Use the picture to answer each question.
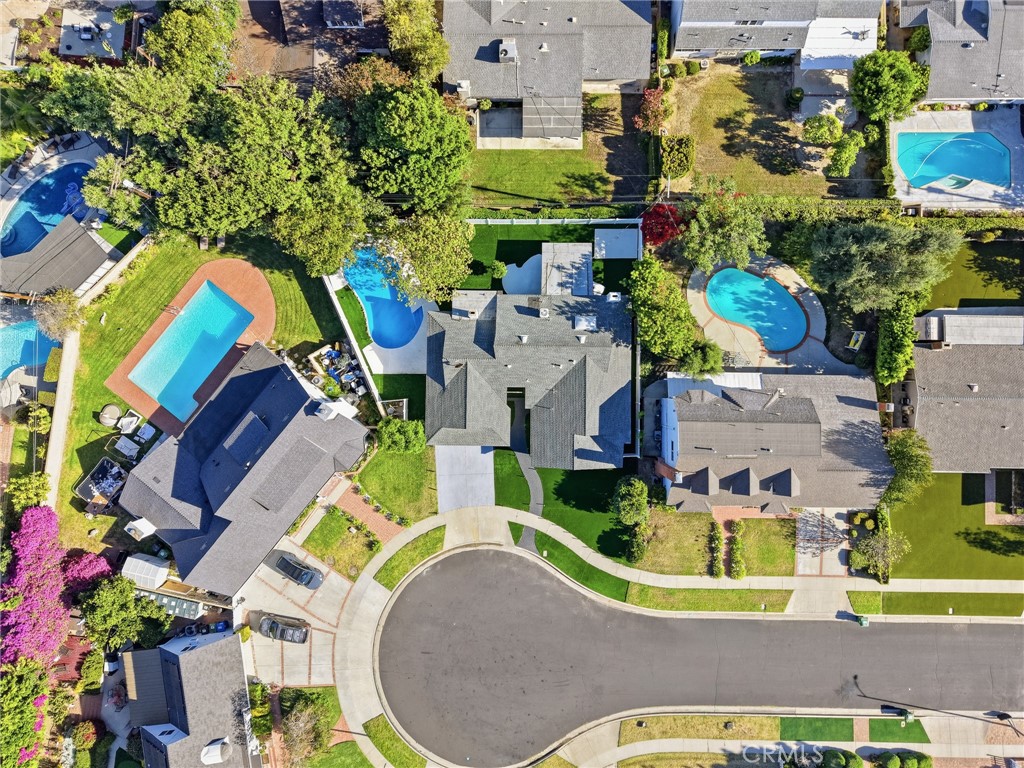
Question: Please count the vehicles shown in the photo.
two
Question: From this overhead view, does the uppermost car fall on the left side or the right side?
left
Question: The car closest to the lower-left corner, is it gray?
Yes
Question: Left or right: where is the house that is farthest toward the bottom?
left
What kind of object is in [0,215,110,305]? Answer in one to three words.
building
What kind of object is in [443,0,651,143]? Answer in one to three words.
house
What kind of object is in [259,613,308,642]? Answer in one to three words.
car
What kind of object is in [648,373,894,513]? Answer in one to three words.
house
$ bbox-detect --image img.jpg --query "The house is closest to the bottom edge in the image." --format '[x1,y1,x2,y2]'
[122,627,262,768]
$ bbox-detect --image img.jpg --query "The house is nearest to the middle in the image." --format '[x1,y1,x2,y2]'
[427,243,632,470]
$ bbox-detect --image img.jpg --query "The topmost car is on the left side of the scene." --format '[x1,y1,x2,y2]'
[274,554,324,590]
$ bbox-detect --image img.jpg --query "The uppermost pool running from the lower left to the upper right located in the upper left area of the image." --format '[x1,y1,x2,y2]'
[0,160,101,258]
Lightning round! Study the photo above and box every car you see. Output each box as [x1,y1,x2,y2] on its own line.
[259,613,308,642]
[274,554,324,590]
